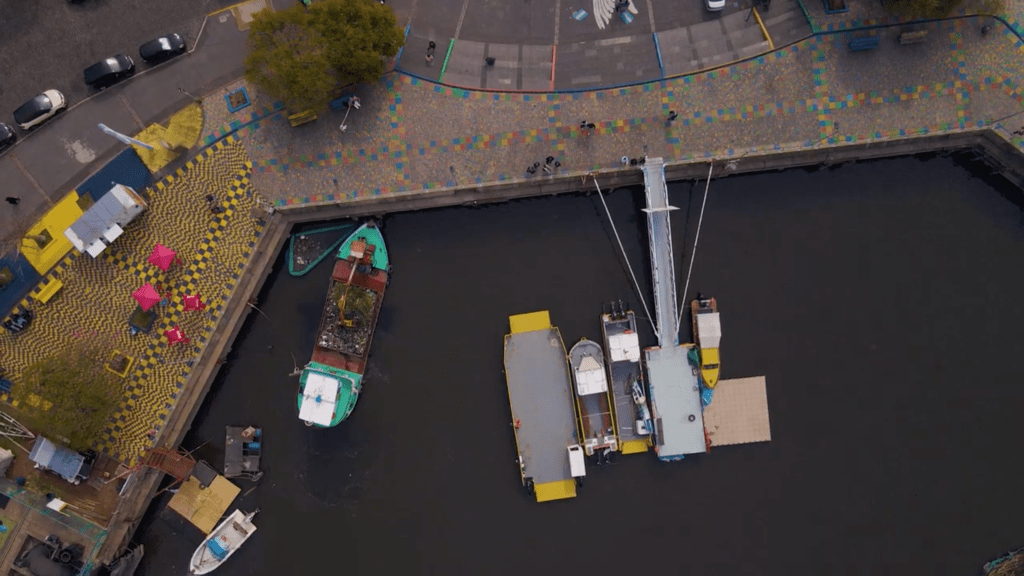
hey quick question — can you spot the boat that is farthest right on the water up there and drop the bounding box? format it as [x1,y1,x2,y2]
[692,292,722,389]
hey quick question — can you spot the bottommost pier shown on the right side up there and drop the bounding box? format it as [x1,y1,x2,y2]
[644,343,712,461]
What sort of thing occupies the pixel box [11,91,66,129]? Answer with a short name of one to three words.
car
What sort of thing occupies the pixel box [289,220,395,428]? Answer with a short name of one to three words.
boat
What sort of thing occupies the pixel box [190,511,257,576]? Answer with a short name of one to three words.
boat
